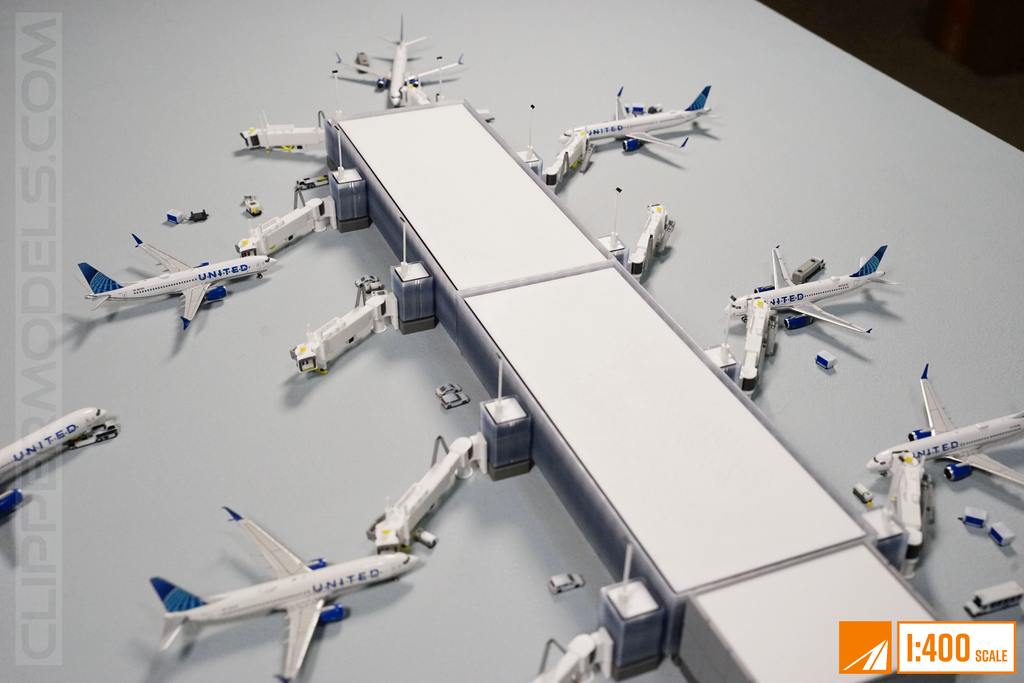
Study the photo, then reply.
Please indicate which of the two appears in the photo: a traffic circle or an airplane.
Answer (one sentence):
Visible in the photo is an airplane.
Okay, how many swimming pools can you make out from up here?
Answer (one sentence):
Not a single swimming pool can be seen.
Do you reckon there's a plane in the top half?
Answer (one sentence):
Yes, a plane can be seen in the top half.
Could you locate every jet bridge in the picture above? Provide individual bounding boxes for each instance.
[289,286,402,374]
[542,125,597,198]
[739,296,778,405]
[241,113,327,158]
[234,189,340,256]
[527,626,614,683]
[628,201,675,288]
[890,446,933,575]
[401,78,439,107]
[367,430,490,555]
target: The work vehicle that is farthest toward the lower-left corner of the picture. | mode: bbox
[68,424,120,448]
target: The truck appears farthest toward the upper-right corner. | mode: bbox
[793,257,825,283]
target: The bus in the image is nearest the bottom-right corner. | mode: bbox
[966,579,1024,616]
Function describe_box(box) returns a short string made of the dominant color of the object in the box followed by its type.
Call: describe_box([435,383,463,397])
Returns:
gray car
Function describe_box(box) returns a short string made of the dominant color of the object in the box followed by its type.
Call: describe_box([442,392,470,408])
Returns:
gray car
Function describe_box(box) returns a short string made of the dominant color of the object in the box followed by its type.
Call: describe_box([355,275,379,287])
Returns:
gray vehicle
